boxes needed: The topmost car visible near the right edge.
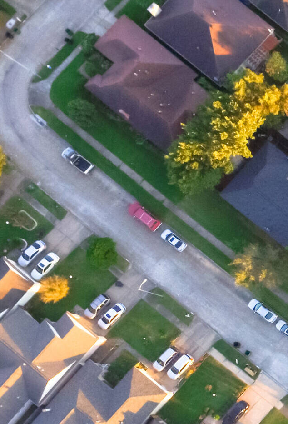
[246,296,281,326]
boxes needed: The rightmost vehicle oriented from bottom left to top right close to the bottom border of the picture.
[221,397,253,424]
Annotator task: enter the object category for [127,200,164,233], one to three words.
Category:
car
